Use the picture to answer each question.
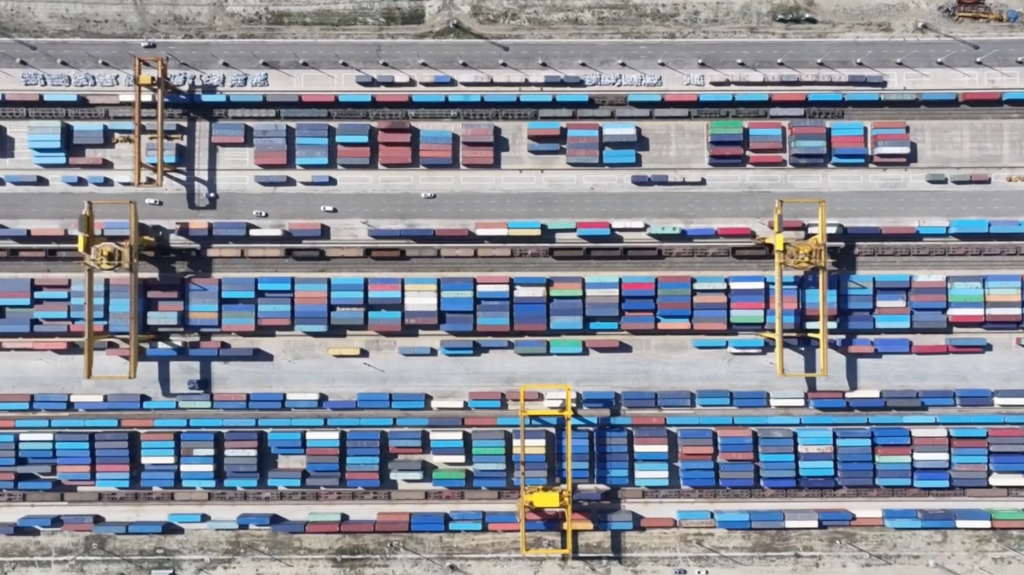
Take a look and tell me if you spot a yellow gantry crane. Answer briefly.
Yes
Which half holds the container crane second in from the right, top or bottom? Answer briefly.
bottom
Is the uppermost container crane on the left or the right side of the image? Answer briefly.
left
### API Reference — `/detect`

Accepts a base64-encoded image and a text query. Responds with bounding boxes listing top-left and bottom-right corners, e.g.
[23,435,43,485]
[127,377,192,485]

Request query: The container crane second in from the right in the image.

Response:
[515,385,572,556]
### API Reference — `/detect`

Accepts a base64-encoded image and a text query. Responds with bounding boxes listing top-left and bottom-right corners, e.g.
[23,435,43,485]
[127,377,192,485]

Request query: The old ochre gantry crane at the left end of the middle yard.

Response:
[77,201,164,379]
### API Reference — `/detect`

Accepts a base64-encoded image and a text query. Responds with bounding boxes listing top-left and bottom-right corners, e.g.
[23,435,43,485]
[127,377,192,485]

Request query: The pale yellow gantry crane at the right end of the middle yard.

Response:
[756,199,827,376]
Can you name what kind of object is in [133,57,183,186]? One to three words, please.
container crane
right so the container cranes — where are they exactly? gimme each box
[756,199,827,376]
[77,201,164,379]
[515,385,572,556]
[133,57,183,186]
